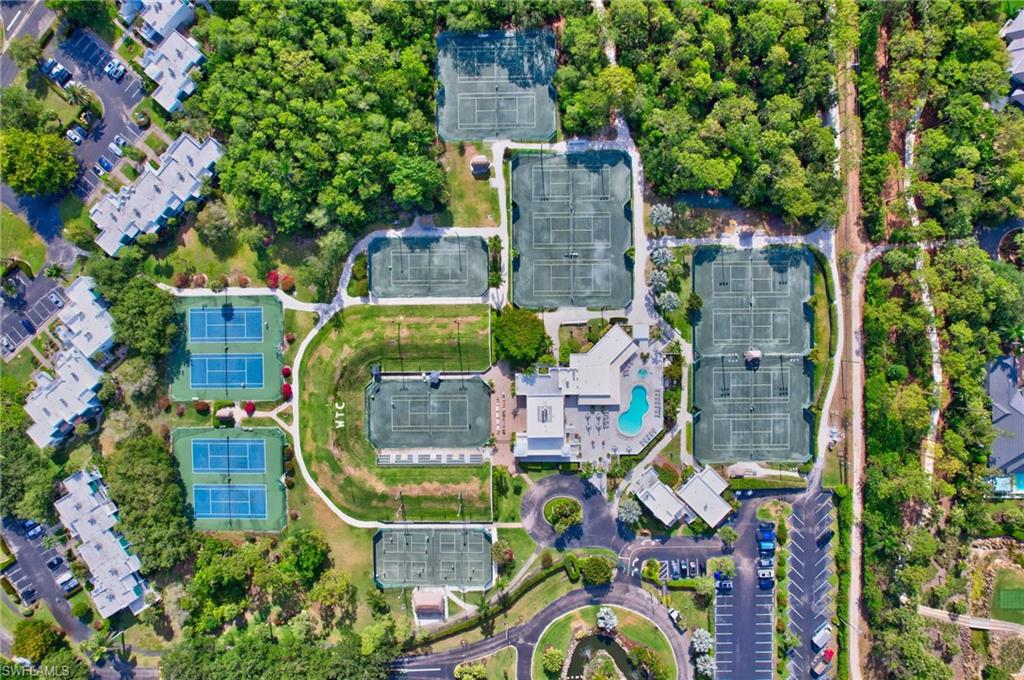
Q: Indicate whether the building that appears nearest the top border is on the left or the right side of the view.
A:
left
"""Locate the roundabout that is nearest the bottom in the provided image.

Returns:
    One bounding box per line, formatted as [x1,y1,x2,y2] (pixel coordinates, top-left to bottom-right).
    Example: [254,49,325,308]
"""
[518,589,692,680]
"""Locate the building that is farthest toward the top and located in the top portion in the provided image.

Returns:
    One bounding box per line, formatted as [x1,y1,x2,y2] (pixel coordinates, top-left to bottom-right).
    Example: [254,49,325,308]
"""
[119,0,199,53]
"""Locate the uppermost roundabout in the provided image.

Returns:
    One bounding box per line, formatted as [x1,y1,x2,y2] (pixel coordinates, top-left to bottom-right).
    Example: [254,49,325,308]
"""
[530,479,599,547]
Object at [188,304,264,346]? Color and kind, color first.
blue tennis court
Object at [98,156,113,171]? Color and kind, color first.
blue car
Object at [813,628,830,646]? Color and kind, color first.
white vehicle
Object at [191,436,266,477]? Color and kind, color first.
blue tennis court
